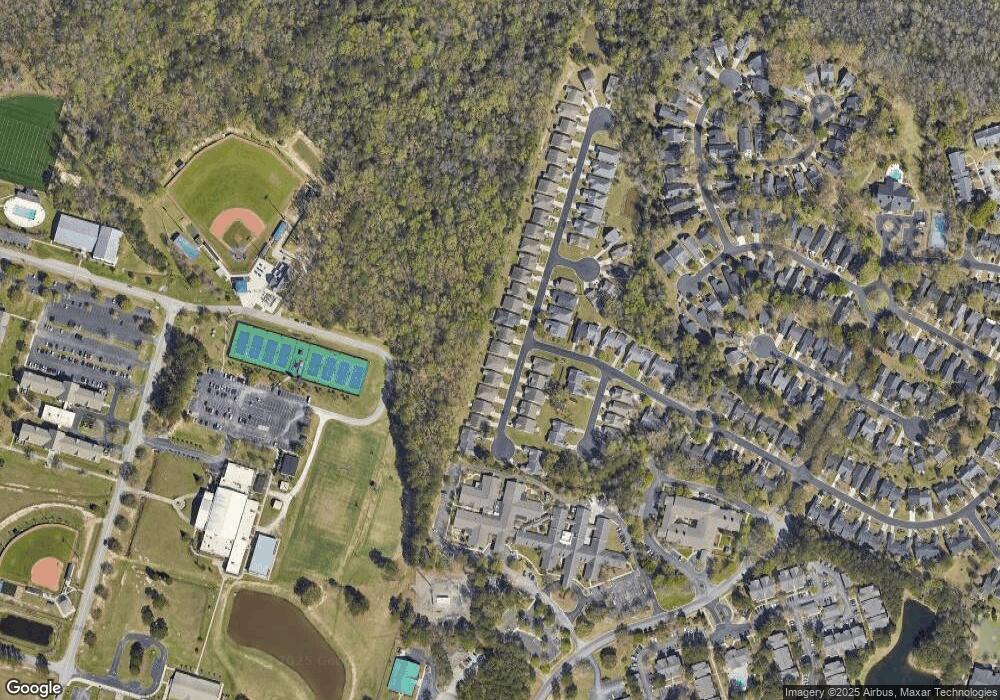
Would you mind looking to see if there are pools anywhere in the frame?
Yes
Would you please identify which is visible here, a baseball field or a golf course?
baseball field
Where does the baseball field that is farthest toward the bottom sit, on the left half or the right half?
left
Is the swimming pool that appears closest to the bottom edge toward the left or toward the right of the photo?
right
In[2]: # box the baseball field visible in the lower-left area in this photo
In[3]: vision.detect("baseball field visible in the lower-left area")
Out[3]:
[0,524,78,594]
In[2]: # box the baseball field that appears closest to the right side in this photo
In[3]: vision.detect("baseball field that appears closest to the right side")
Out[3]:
[165,134,305,279]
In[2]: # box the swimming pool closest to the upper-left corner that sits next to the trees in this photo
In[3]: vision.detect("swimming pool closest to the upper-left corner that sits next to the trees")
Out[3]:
[4,198,45,226]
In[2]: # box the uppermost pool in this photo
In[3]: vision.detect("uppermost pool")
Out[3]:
[887,164,903,181]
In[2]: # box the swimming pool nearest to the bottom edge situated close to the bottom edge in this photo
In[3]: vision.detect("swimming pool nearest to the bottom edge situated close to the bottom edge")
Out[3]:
[728,667,748,691]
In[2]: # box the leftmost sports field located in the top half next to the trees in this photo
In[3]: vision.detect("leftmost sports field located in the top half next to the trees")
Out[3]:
[0,95,62,190]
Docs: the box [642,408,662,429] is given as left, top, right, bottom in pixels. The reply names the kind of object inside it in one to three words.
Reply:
house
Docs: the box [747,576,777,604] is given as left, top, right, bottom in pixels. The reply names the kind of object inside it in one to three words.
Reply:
building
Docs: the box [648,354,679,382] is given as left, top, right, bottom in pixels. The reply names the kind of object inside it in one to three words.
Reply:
house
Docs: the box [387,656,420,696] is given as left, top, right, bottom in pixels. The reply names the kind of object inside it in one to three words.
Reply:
building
